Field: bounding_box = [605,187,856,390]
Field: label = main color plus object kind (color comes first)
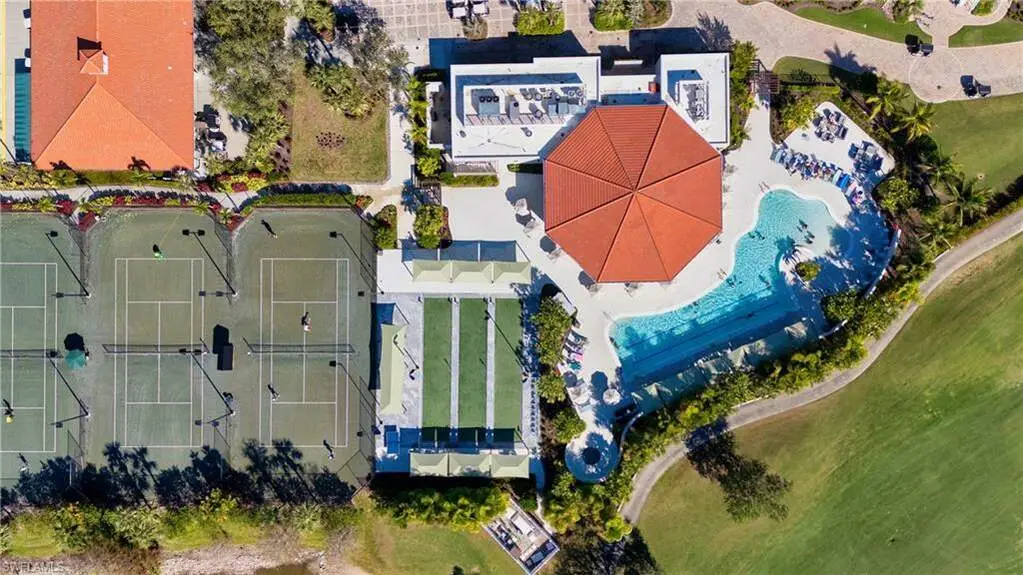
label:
blue swimming pool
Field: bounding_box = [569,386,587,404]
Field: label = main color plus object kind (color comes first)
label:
white umbrella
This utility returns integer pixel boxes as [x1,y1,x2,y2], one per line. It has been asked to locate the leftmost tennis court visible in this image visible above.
[0,212,82,504]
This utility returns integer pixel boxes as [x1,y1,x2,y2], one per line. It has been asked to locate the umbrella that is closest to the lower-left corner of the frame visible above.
[66,347,86,367]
